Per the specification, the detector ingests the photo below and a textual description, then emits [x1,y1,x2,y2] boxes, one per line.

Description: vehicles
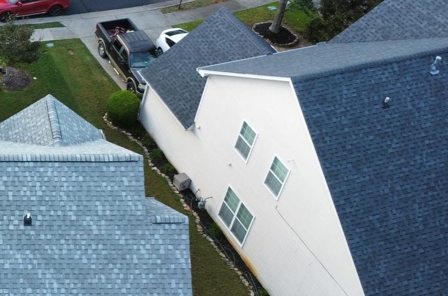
[0,0,74,23]
[94,28,160,100]
[162,24,197,52]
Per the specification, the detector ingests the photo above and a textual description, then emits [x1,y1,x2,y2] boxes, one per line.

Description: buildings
[0,90,192,296]
[140,0,448,296]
